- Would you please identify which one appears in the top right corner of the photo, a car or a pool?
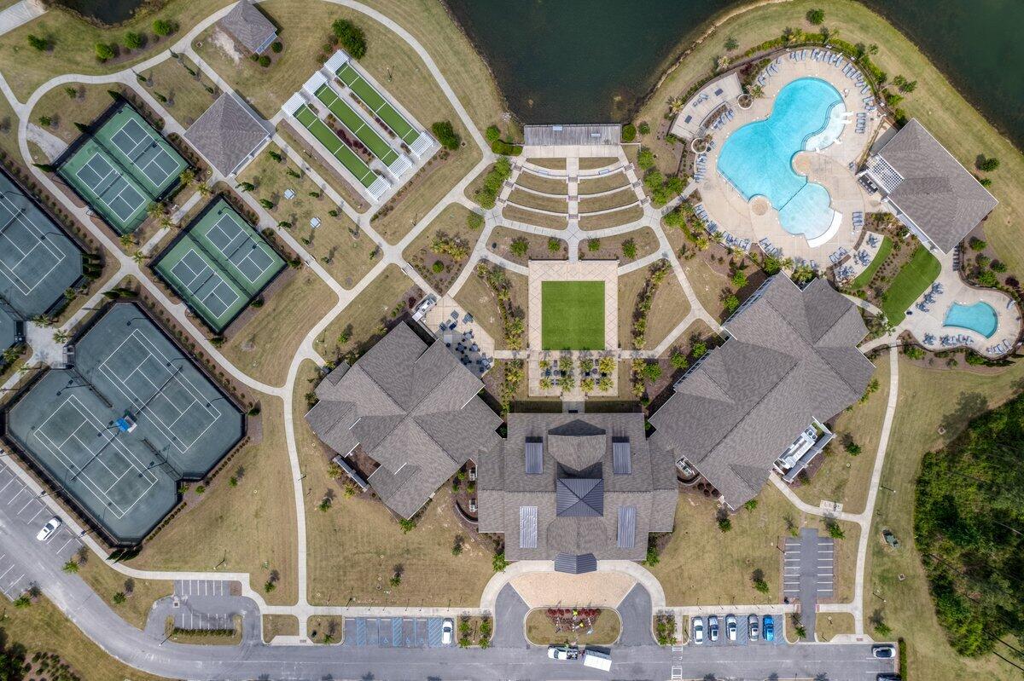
pool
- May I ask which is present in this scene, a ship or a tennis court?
tennis court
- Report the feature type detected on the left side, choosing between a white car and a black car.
white car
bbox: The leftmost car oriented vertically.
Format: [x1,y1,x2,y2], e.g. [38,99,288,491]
[441,620,453,645]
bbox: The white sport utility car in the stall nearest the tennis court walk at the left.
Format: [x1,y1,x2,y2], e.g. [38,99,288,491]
[36,517,62,541]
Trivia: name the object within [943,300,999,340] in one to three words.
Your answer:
swimming pool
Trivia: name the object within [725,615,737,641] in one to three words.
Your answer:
vehicle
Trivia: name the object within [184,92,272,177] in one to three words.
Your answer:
building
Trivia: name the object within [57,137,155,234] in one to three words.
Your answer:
sports court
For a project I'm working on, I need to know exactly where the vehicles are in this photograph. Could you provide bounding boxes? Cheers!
[441,620,453,645]
[707,616,719,641]
[875,673,900,681]
[762,616,775,641]
[725,615,737,641]
[36,517,62,541]
[871,645,894,658]
[548,647,578,661]
[692,618,703,644]
[747,615,759,641]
